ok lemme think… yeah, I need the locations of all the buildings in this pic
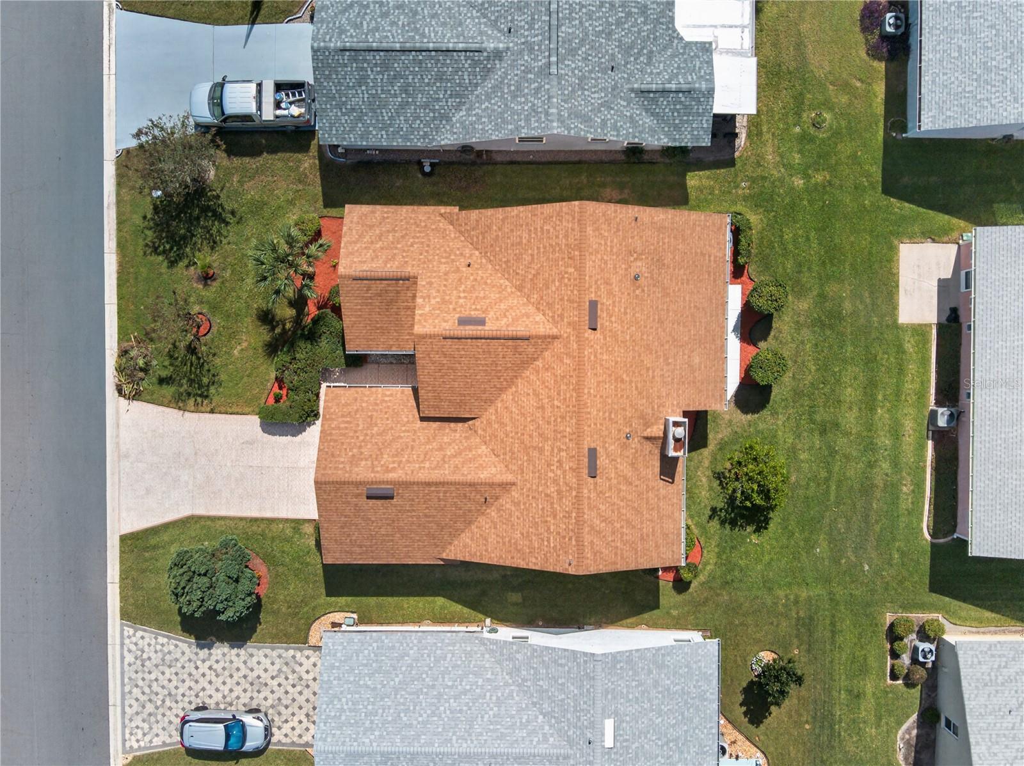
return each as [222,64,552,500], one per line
[935,635,1024,766]
[907,0,1024,138]
[310,0,757,151]
[315,200,732,574]
[954,224,1024,560]
[314,627,724,766]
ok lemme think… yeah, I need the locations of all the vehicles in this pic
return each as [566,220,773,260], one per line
[179,708,274,758]
[191,75,317,130]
